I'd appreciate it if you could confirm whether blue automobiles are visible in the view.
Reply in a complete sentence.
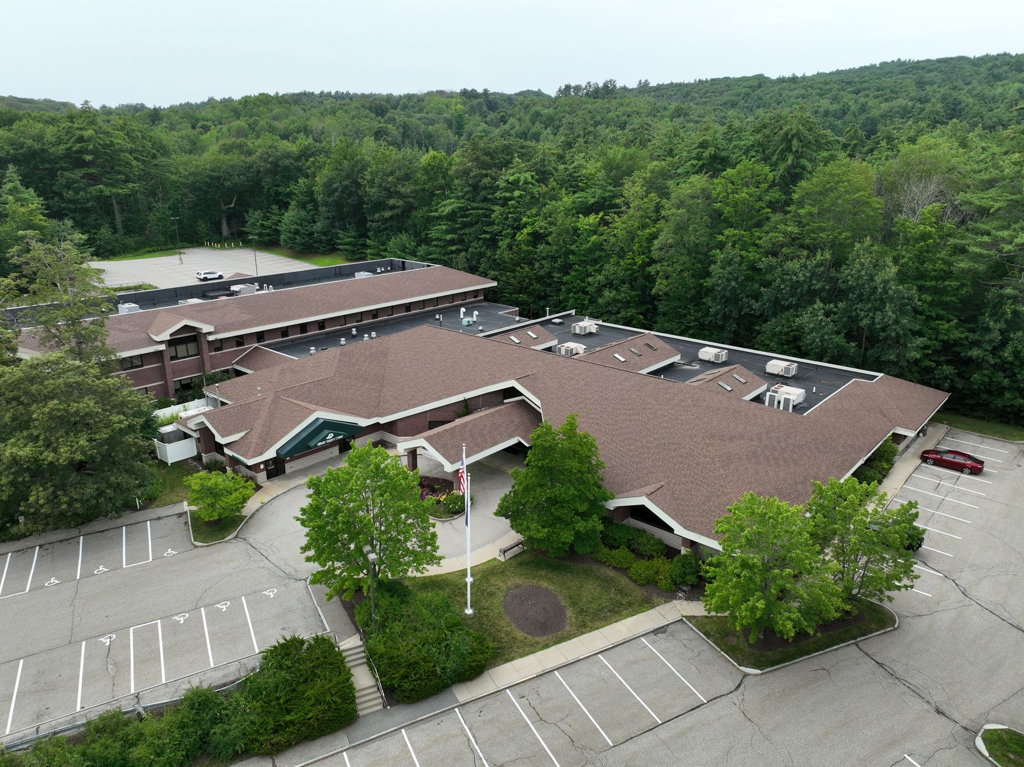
No, there's no blue automobile here.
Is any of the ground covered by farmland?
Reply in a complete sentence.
No, there is no farmland in the image.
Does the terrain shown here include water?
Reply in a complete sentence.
No, there is no water in the image.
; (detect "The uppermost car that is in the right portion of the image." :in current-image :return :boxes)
[919,449,987,475]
